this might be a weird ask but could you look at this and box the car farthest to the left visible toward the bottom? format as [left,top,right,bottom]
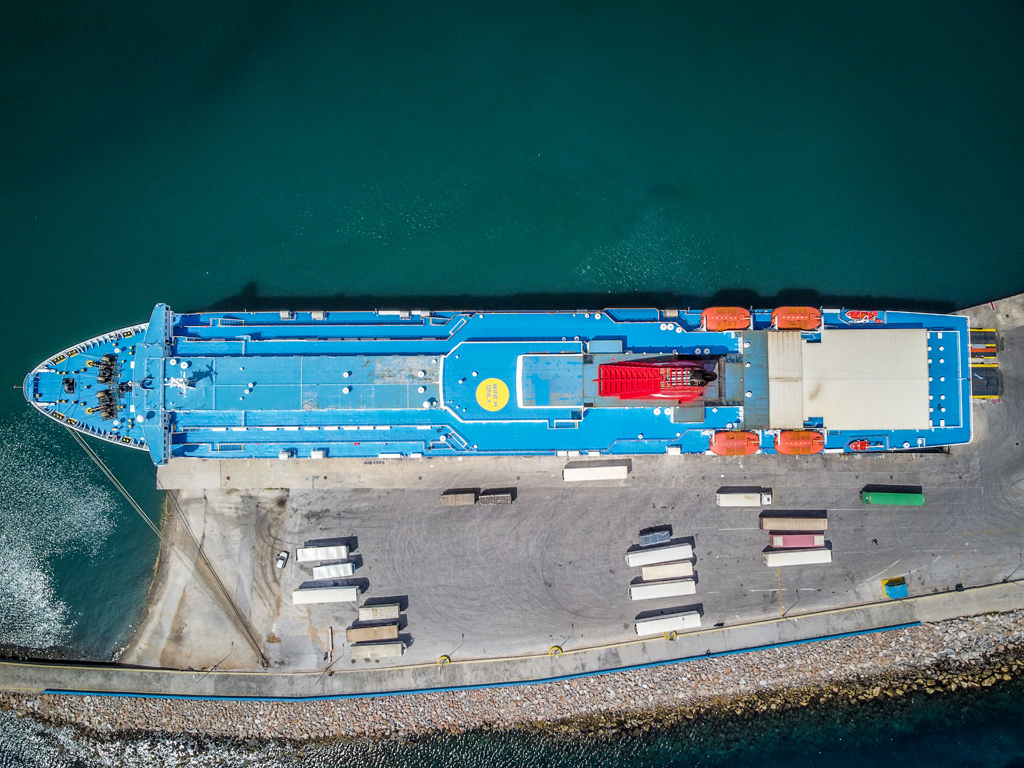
[276,551,288,569]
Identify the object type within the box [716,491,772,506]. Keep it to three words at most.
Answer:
vehicle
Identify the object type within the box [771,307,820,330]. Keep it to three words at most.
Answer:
boat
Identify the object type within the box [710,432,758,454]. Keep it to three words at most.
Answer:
boat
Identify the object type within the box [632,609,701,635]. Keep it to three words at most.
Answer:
trailer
